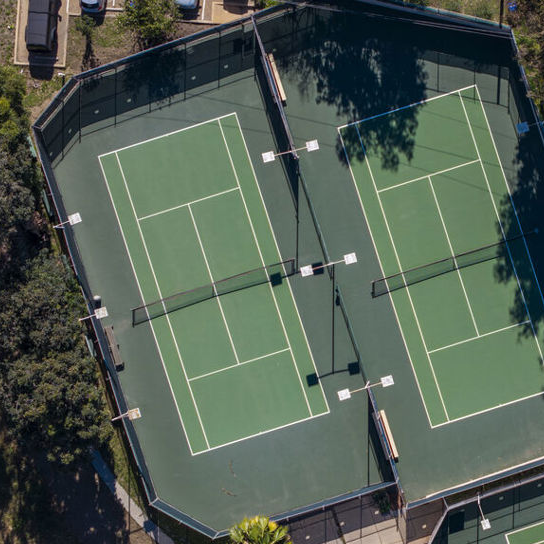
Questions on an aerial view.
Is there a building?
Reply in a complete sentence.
No, the frame has no building in it.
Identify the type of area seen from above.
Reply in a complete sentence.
The area seen from above is a sports ground.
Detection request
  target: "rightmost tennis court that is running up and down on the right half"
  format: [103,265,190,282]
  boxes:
[258,1,544,502]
